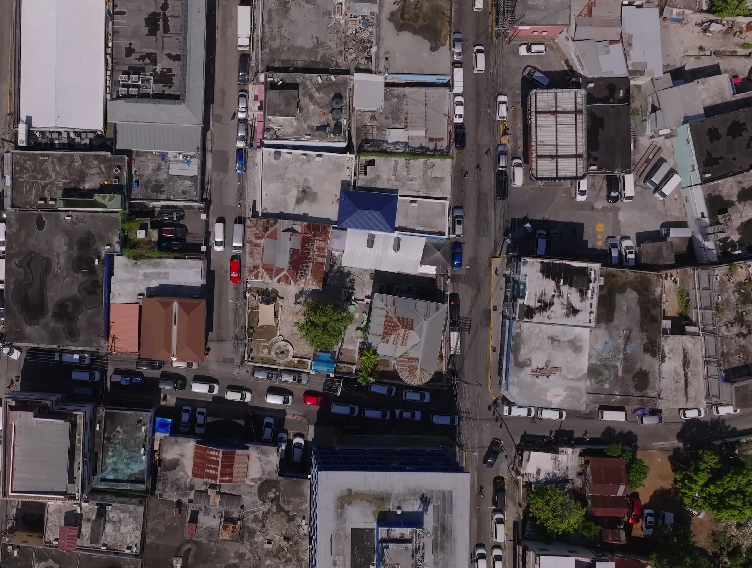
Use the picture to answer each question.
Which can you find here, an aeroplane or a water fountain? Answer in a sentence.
The image shows a water fountain.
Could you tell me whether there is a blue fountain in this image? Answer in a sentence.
No, the scene contains no blue fountain.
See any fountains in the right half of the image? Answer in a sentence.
No, looking in the right half of the image, there is no fountain.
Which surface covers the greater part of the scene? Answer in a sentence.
Most of the picture is covered by buildings.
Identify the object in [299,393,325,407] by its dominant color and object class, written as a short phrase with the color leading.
red vehicle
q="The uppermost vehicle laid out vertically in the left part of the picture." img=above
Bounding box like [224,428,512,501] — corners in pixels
[235,1,252,52]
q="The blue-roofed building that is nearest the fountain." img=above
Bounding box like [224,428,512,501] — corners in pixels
[310,349,336,374]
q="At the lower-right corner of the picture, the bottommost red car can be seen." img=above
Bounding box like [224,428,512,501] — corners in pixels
[625,493,644,524]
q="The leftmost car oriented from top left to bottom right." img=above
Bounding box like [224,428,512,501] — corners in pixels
[0,341,27,364]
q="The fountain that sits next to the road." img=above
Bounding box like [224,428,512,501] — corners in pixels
[271,338,295,362]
